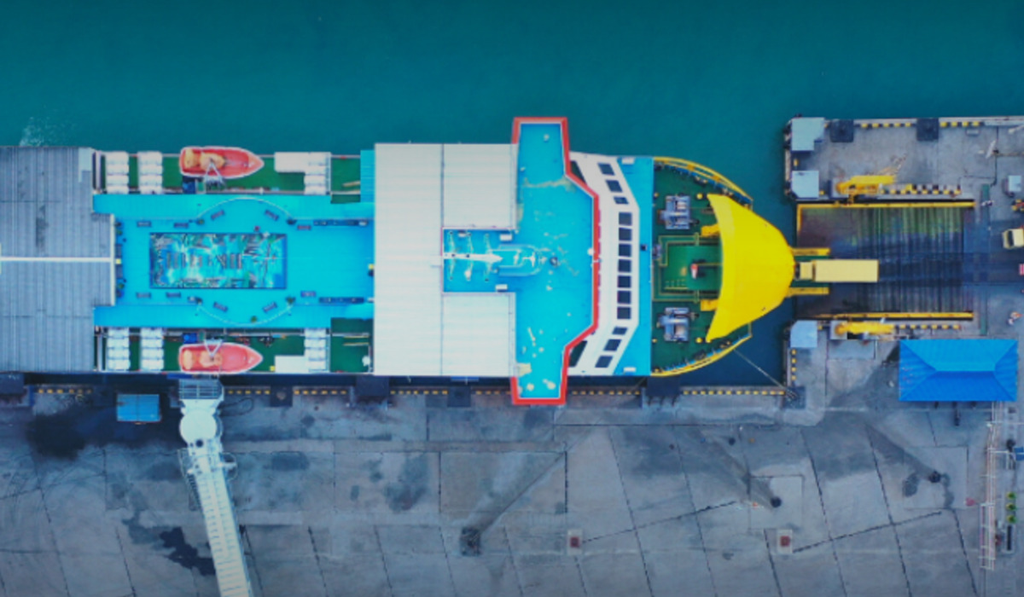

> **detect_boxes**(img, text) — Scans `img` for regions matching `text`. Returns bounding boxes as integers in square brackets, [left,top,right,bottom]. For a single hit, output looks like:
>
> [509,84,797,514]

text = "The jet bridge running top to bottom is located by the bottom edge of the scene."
[178,379,265,597]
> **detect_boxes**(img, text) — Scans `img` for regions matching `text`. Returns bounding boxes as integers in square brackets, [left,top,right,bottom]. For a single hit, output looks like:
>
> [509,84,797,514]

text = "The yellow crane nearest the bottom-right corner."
[827,319,894,339]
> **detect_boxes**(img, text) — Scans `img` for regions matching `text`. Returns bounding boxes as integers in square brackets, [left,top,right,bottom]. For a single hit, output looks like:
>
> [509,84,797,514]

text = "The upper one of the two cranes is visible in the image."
[827,175,895,204]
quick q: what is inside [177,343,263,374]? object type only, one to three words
boat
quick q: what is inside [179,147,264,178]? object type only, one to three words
boat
